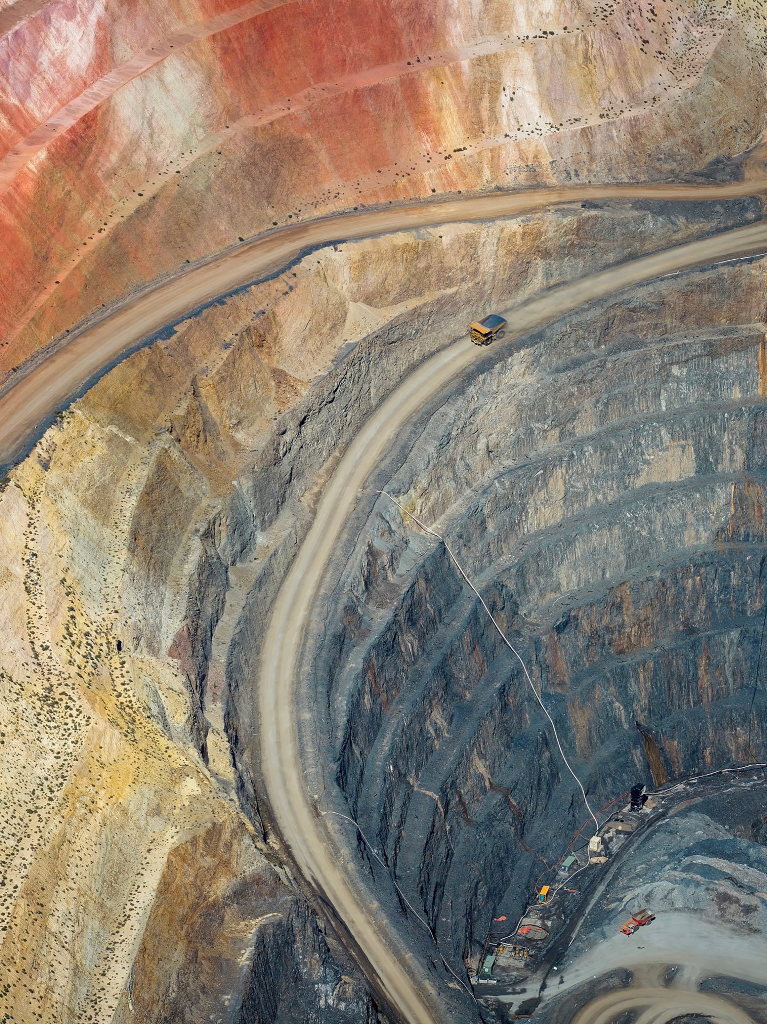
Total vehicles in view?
2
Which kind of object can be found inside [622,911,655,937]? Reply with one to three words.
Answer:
truck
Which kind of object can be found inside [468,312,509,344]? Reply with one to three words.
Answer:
truck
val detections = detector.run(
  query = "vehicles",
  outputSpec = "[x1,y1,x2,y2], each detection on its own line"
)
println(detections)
[622,911,655,937]
[468,312,509,344]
